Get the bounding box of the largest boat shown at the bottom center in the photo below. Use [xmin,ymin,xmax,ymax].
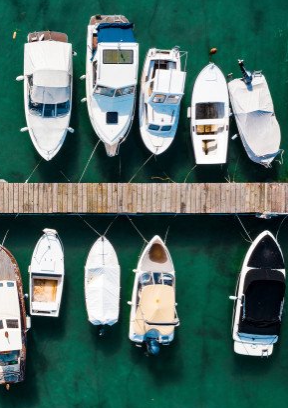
[129,233,180,361]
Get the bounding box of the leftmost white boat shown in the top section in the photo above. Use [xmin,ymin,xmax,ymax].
[23,30,73,160]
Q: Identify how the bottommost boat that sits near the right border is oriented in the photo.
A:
from top to bottom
